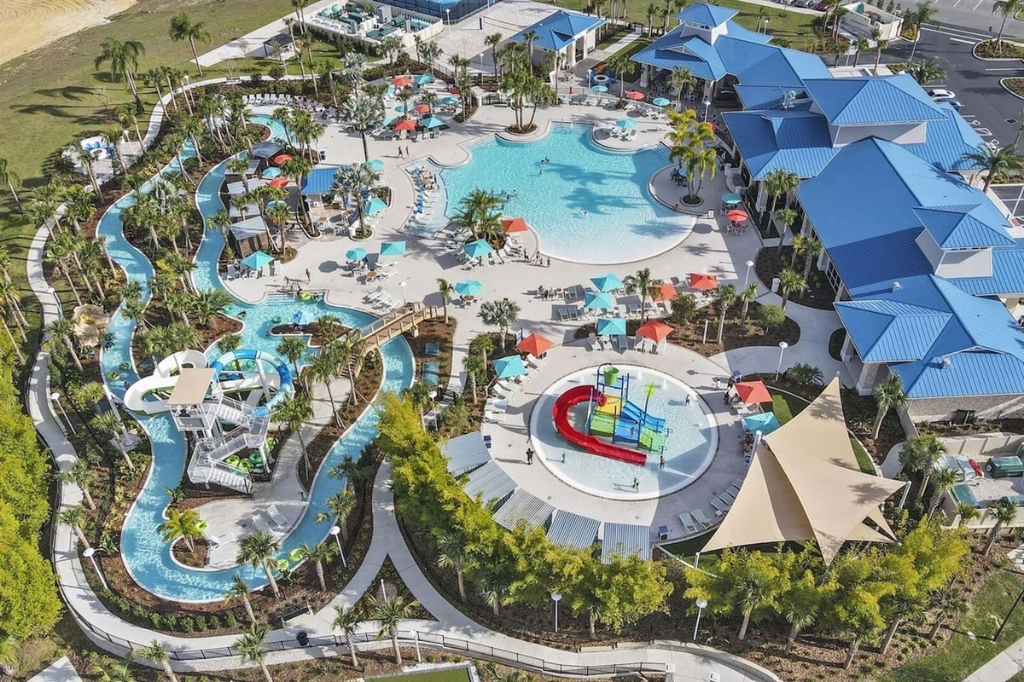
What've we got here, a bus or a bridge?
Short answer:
bridge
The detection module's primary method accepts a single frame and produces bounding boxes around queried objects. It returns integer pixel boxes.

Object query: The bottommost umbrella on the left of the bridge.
[288,308,314,339]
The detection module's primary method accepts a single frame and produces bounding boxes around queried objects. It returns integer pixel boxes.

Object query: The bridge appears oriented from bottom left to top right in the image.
[333,292,449,380]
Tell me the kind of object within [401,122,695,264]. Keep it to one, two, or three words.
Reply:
swimming pool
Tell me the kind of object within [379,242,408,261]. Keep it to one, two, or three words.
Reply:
umbrella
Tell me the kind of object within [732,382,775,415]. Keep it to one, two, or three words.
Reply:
umbrella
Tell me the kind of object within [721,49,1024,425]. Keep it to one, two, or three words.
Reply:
building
